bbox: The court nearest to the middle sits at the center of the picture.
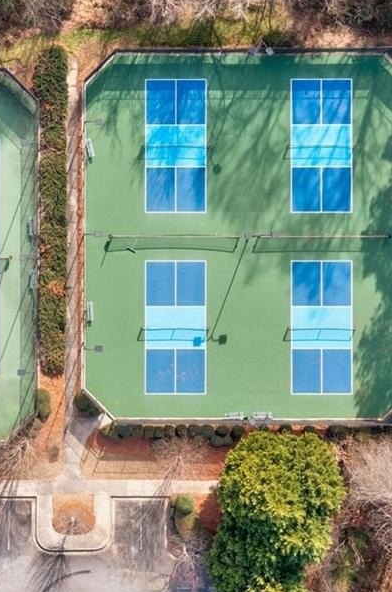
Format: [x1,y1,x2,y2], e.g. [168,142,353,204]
[146,261,207,395]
